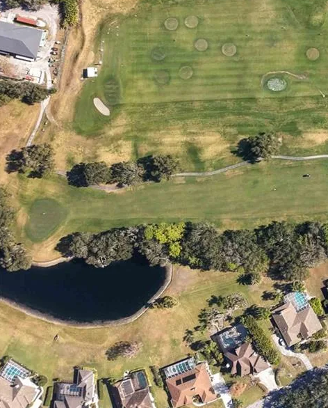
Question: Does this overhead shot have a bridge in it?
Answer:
No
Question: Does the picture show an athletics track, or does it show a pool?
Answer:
pool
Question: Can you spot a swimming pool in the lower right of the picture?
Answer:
Yes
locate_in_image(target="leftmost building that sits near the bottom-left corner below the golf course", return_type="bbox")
[0,359,42,408]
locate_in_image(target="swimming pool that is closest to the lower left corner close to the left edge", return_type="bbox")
[0,360,29,381]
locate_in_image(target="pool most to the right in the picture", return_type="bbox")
[285,290,310,312]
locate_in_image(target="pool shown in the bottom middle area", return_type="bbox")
[165,358,195,378]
